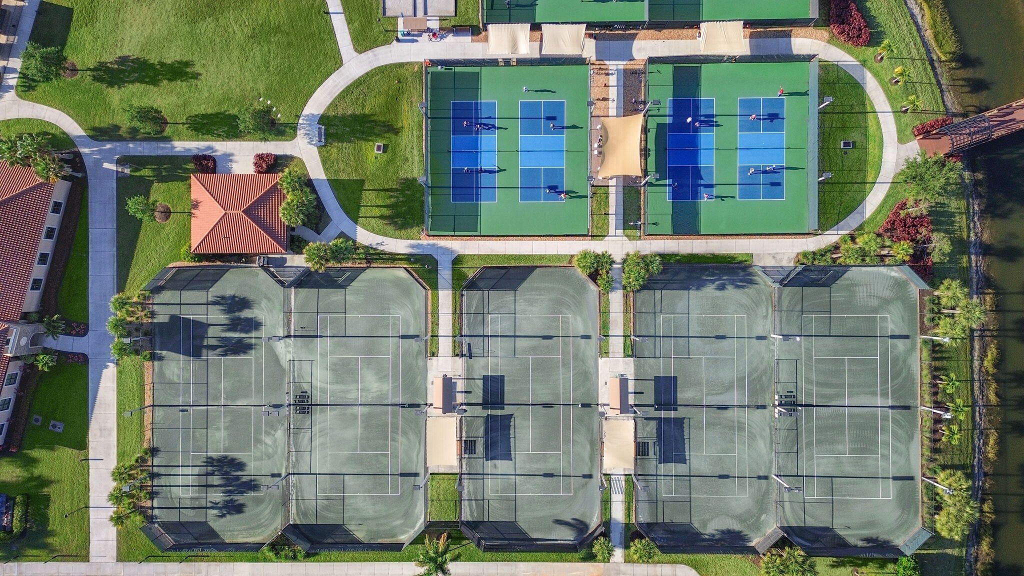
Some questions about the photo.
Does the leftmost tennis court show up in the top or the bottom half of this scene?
bottom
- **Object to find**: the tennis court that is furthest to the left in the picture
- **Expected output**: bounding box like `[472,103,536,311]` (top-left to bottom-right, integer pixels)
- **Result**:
[152,267,289,544]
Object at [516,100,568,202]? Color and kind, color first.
blue sports court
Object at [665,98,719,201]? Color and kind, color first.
blue sports court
